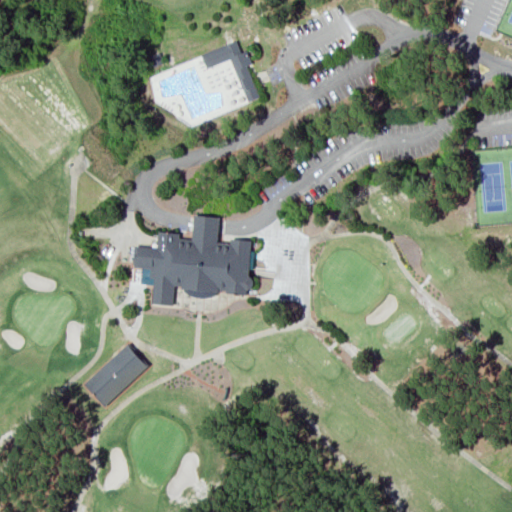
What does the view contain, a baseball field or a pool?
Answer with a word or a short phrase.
pool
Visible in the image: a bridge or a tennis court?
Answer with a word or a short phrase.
tennis court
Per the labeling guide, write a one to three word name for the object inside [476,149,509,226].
tennis court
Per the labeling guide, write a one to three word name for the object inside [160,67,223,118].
swimming pool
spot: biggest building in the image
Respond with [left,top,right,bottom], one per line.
[134,216,257,306]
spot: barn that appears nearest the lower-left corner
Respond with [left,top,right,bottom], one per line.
[83,342,152,408]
